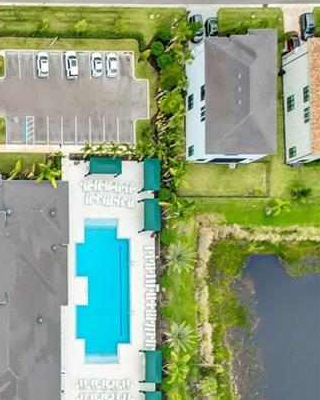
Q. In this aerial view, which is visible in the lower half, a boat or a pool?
pool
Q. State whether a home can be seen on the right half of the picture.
Yes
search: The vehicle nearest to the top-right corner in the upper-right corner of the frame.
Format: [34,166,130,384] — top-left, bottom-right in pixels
[299,13,315,42]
